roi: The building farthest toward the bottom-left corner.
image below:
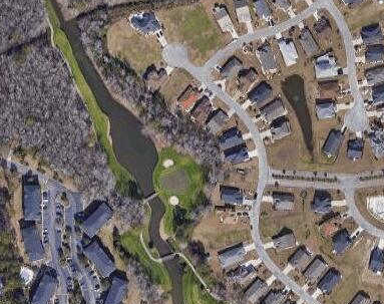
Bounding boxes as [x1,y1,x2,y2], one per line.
[31,273,57,304]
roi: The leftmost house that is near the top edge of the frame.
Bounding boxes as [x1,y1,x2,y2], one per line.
[131,12,156,32]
